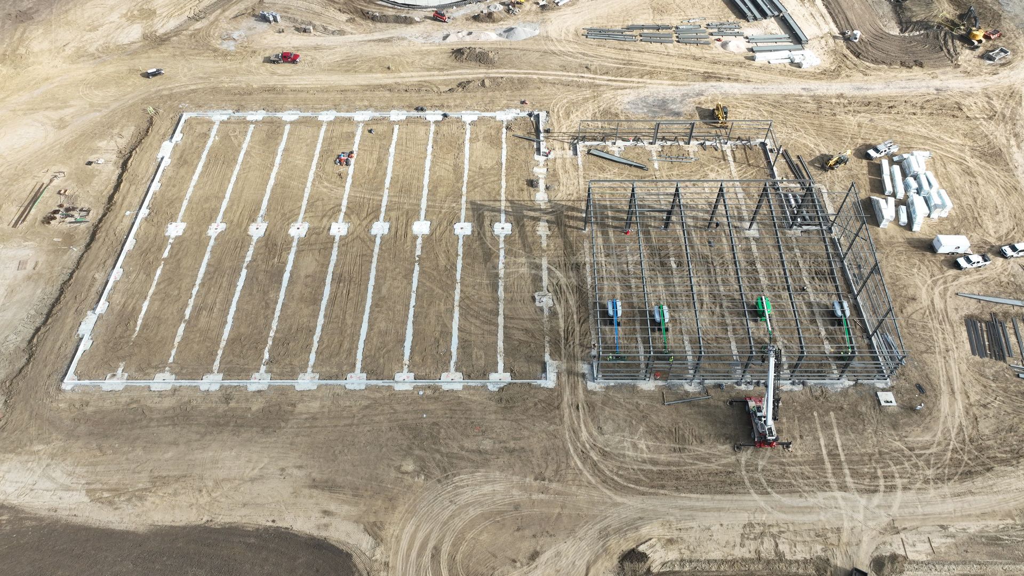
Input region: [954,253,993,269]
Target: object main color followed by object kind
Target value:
white vehicle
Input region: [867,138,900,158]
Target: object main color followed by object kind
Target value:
white vehicle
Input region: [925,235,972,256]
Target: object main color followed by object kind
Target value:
white trailer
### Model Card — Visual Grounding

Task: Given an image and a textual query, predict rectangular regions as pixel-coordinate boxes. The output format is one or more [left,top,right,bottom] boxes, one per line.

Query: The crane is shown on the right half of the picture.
[726,350,793,454]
